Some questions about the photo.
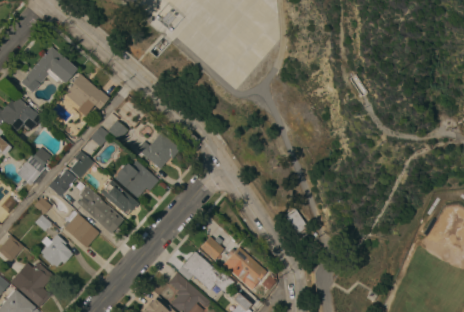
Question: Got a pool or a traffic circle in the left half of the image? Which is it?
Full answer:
You can see a pool in the left half of the image.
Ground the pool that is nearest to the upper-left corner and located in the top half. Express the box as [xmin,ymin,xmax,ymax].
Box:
[34,84,56,100]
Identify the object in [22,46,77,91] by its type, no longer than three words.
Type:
house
